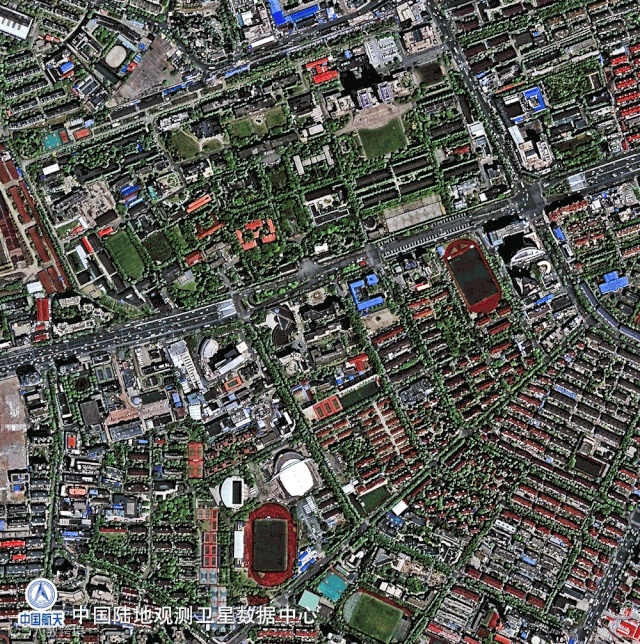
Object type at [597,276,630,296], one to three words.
building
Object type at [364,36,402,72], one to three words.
building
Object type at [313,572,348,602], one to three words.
basketball court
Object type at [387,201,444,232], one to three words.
basketball court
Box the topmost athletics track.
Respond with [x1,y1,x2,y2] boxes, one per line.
[446,240,502,313]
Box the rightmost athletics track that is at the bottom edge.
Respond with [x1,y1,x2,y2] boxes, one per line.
[343,590,413,644]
